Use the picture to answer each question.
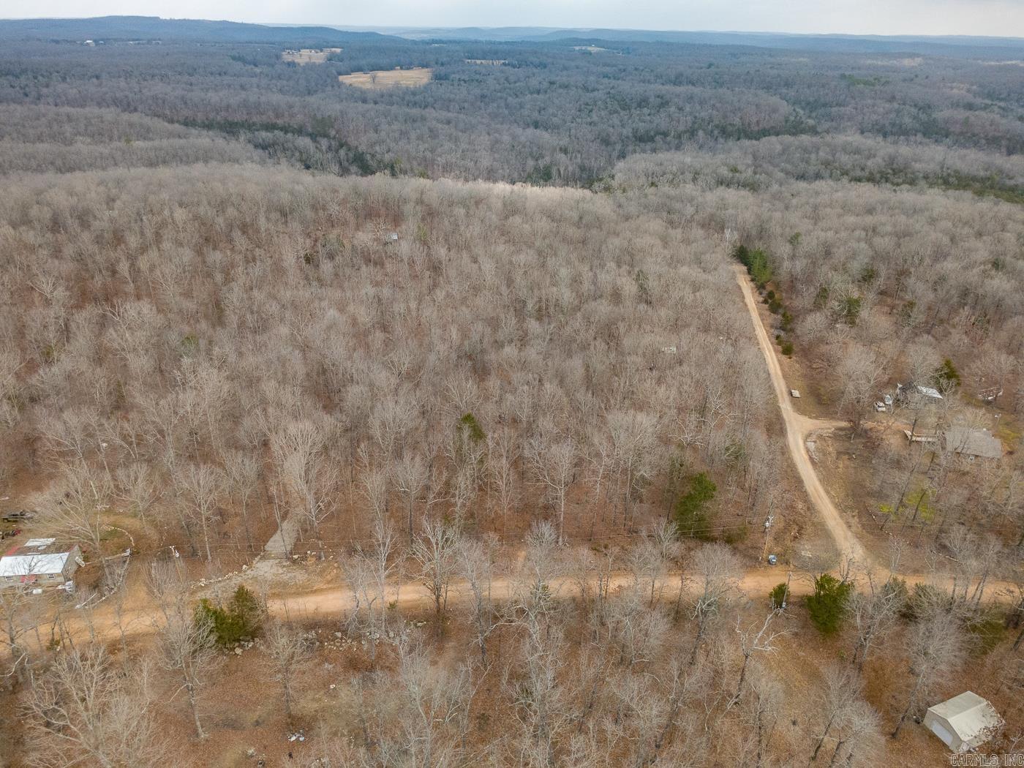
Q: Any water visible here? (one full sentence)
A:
No, no water is visible.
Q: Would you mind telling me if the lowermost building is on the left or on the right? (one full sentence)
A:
The lowermost building appears in the right half of the scene.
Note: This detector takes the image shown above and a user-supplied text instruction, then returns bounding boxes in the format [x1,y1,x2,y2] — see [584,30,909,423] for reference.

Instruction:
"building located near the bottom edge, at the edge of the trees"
[924,688,1004,753]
